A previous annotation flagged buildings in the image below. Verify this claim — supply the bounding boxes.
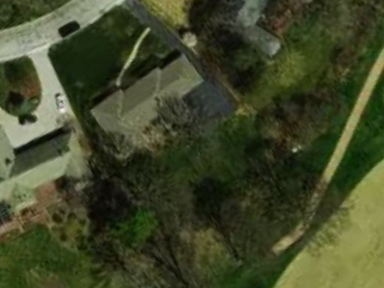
[86,48,203,149]
[234,0,284,57]
[0,123,91,210]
